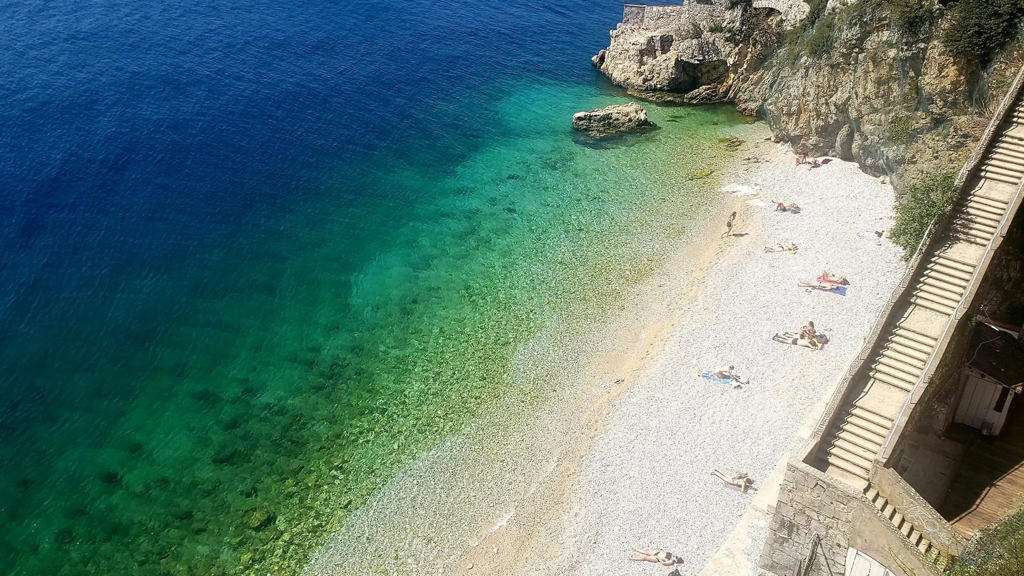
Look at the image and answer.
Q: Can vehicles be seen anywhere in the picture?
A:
No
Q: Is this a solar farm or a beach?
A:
beach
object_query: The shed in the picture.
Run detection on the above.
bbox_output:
[955,296,1024,442]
